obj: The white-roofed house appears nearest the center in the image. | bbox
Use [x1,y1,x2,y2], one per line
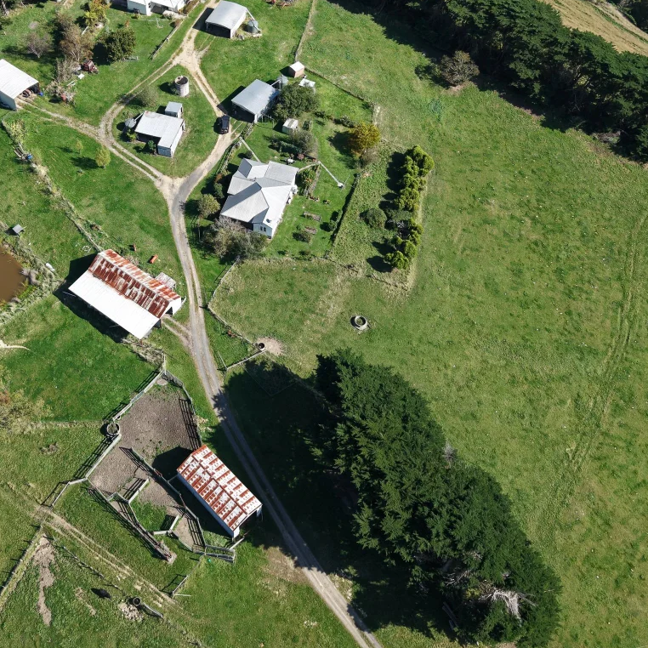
[221,159,299,237]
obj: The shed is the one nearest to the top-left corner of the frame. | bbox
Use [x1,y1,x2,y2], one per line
[0,59,41,111]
